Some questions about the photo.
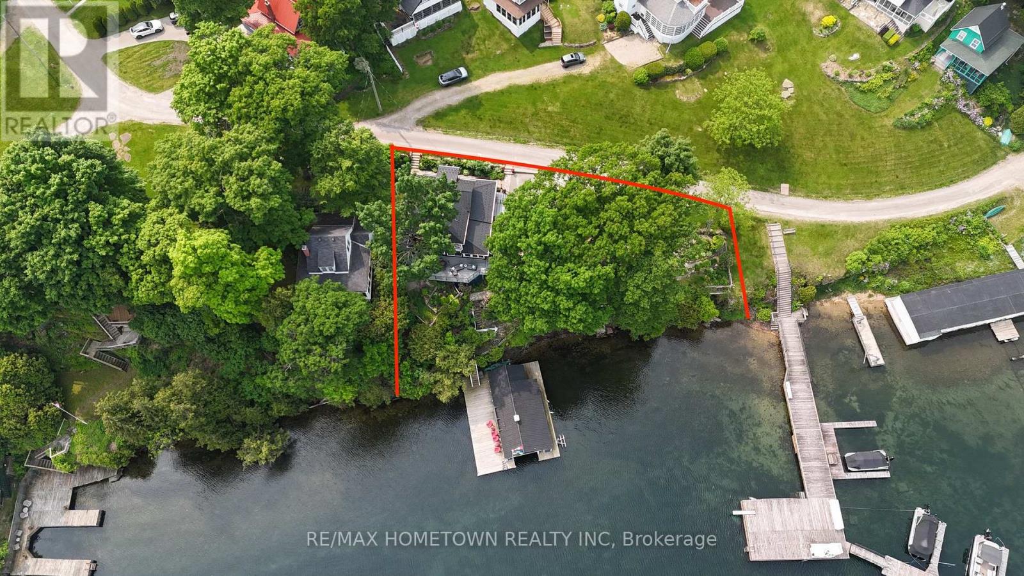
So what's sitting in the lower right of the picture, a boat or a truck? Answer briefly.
boat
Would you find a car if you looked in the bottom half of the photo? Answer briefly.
No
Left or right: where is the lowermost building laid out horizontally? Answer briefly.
right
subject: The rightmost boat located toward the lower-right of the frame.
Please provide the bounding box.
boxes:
[965,535,1010,576]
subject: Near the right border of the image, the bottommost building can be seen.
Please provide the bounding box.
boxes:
[879,265,1024,349]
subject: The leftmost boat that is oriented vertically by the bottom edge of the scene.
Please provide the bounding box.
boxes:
[905,506,943,568]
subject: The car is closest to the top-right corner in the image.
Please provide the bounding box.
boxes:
[559,51,587,69]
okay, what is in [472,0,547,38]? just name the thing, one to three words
house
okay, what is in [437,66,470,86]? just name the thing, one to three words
car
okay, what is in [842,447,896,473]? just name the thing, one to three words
boat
